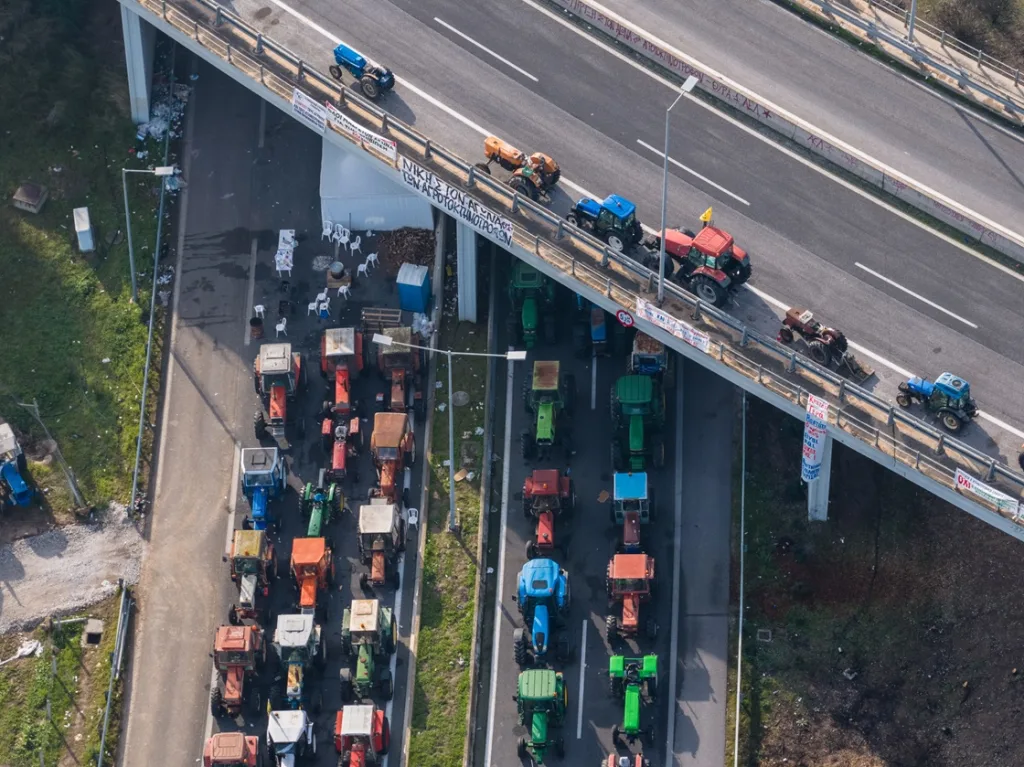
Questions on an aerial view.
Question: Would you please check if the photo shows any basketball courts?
No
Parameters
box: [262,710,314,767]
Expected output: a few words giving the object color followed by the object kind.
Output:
white work vehicle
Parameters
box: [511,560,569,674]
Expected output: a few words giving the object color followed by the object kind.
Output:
blue work vehicle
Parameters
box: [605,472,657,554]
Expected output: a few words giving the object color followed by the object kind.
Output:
blue work vehicle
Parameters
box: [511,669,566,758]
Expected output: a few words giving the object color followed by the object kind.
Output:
green work vehicle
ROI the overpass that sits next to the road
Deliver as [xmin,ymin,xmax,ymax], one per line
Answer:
[116,0,1024,544]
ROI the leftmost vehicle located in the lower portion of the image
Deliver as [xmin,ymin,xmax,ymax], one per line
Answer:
[0,422,39,513]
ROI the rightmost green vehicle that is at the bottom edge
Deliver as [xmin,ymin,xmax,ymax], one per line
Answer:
[610,656,657,747]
